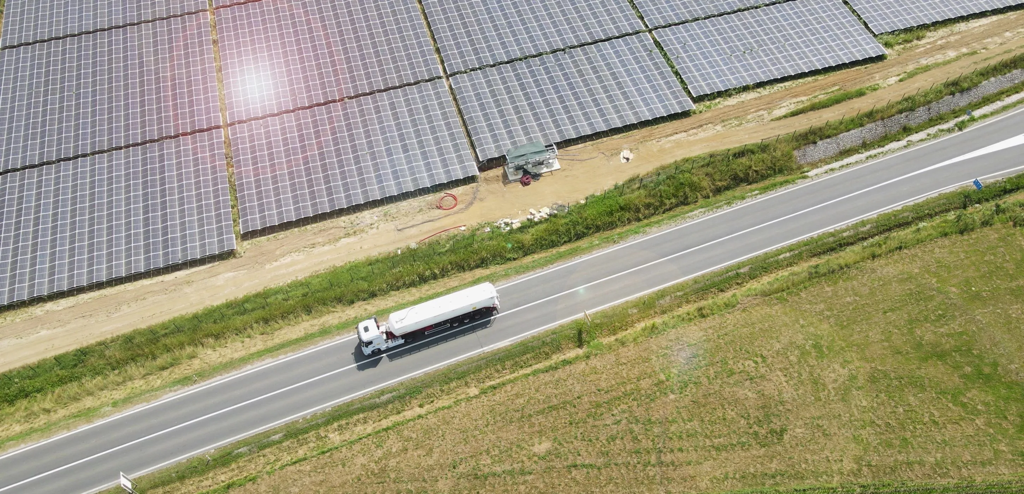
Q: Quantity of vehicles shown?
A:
one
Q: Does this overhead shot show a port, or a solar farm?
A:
solar farm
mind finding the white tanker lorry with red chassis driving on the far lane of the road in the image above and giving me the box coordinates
[354,282,499,355]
